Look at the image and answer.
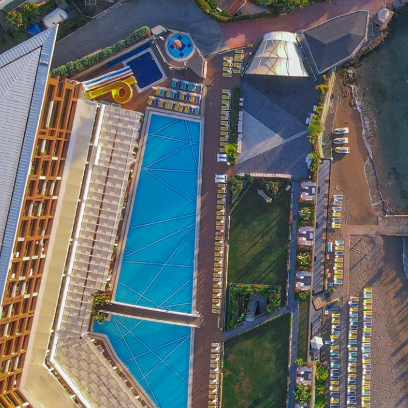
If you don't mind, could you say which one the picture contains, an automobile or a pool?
pool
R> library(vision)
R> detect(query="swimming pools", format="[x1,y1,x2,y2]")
[163,30,197,64]
[122,47,169,94]
[89,109,205,408]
